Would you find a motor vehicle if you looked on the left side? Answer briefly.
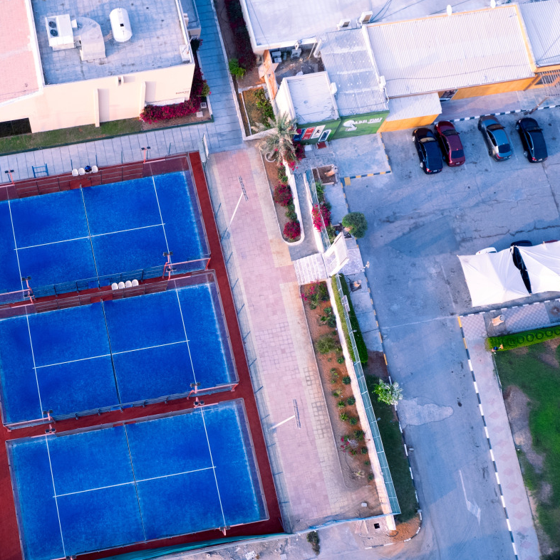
No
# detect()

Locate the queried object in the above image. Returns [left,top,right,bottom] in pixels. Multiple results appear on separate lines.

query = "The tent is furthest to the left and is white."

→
[457,246,533,308]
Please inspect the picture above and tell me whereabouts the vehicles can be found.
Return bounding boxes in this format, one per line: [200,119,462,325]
[412,127,446,175]
[478,239,503,254]
[542,232,560,242]
[479,115,514,161]
[434,119,468,167]
[516,116,553,163]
